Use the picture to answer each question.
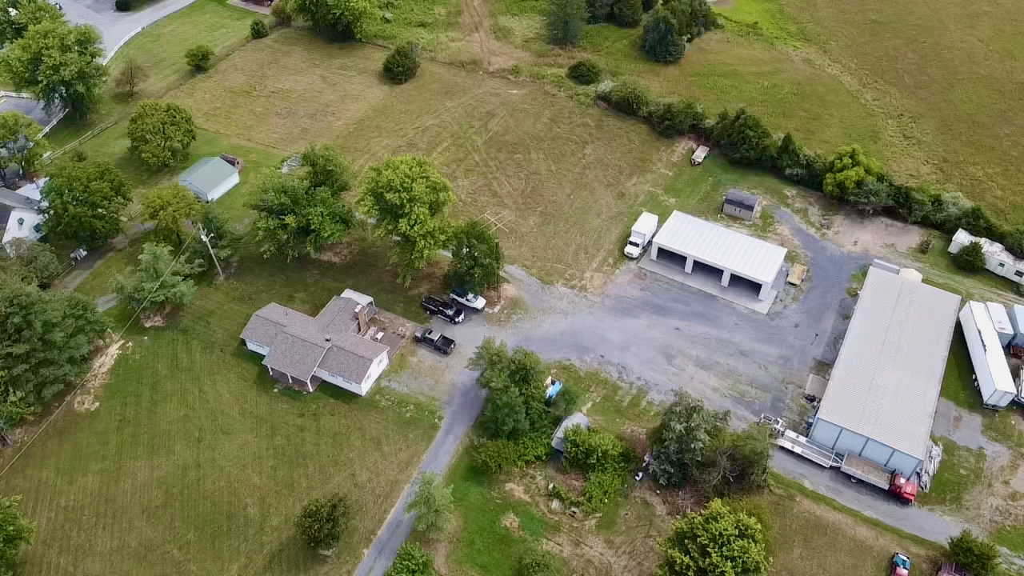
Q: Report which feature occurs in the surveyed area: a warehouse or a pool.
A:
warehouse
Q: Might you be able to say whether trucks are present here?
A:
Yes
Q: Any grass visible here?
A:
Yes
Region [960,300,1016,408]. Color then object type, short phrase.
white trailer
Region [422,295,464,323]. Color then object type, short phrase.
black truck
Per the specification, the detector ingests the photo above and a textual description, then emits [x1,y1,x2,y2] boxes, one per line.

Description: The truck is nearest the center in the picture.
[446,283,486,310]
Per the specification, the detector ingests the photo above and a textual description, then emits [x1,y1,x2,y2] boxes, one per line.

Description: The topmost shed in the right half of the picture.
[724,189,759,220]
